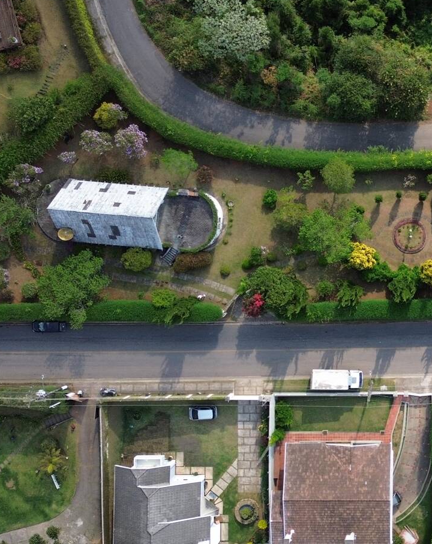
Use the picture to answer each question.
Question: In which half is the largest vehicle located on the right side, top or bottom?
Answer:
bottom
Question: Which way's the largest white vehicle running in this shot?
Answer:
from side to side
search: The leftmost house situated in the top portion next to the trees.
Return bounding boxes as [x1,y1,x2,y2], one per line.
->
[46,175,169,250]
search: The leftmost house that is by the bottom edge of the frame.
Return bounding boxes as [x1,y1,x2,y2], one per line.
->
[110,448,228,544]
